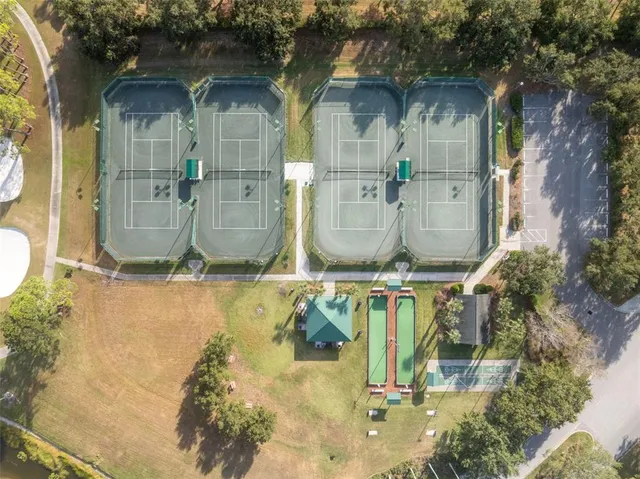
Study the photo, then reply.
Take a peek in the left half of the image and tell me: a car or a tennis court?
tennis court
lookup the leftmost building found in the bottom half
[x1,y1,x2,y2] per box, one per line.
[307,296,352,341]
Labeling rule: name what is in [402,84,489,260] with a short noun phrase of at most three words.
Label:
tennis court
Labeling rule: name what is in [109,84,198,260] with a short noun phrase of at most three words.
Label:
tennis court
